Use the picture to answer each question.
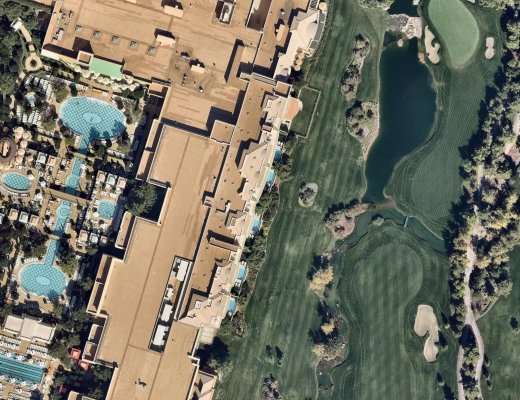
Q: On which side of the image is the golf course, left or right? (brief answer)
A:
right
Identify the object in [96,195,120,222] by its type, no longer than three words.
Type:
swimming pool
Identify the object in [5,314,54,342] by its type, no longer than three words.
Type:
building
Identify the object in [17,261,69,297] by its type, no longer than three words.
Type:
swimming pool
